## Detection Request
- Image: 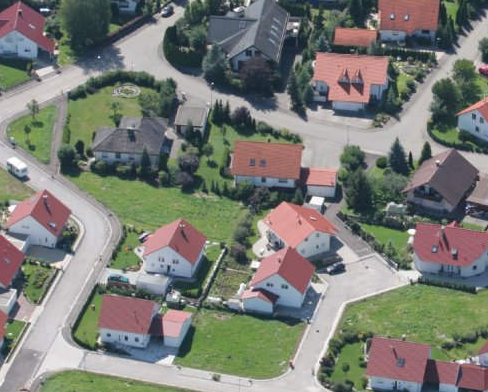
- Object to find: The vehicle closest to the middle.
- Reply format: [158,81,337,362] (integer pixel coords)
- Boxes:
[323,260,350,276]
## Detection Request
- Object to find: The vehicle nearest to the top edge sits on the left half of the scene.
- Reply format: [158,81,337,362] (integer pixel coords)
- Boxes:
[159,5,176,17]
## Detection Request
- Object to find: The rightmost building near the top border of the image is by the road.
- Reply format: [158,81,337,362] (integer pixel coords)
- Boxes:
[378,0,440,41]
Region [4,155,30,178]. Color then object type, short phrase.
white camper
